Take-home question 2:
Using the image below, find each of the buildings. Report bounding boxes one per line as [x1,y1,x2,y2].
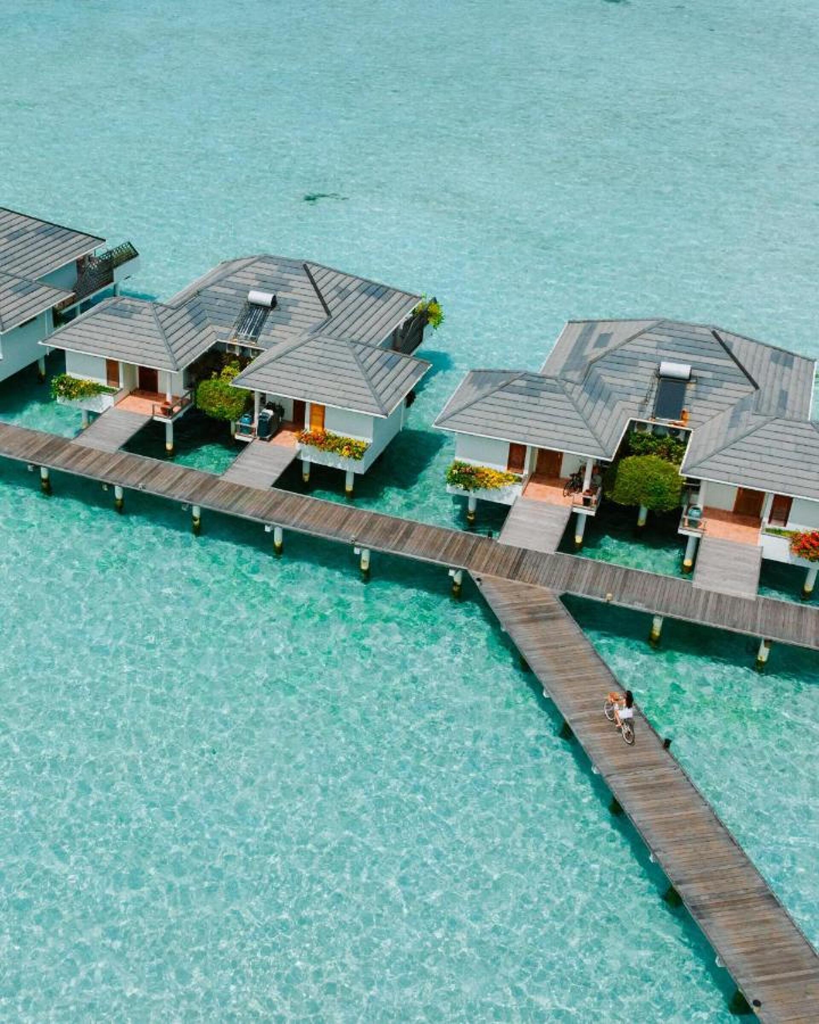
[430,317,819,603]
[38,253,443,505]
